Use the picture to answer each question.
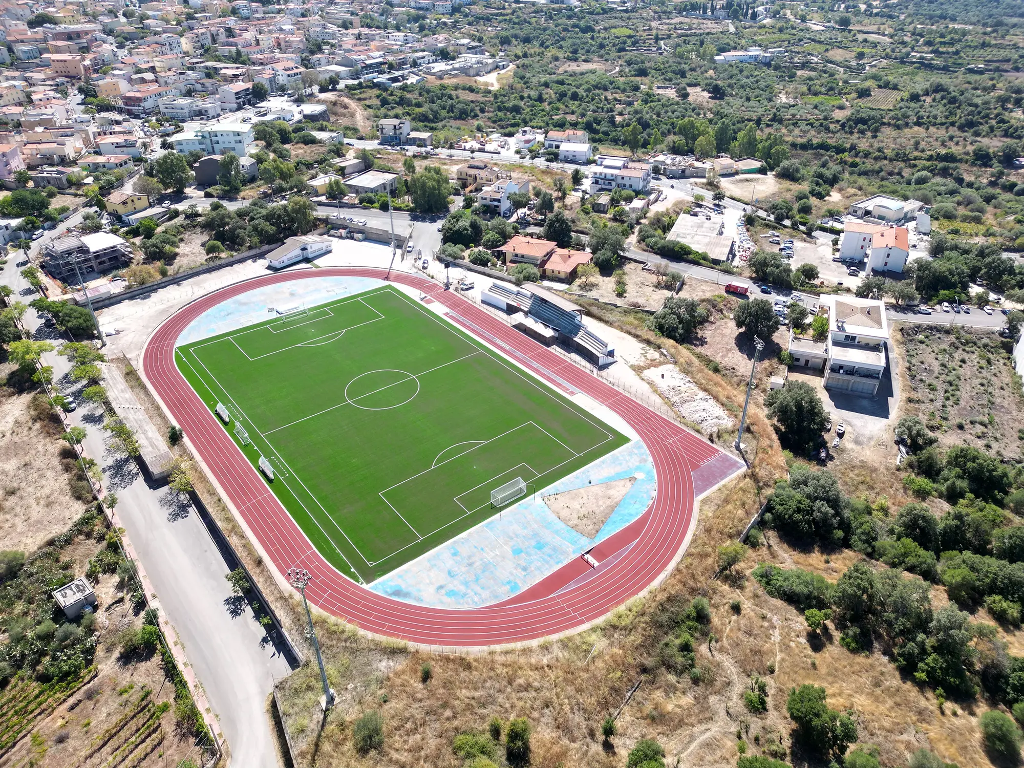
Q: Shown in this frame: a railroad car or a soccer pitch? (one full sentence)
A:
Visible in the photo is a soccer pitch.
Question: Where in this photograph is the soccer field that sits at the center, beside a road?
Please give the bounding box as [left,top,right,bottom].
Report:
[176,283,634,585]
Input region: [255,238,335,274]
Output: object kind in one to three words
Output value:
building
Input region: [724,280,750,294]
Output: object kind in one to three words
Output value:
vehicle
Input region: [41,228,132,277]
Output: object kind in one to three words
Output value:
house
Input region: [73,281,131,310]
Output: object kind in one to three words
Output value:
shed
